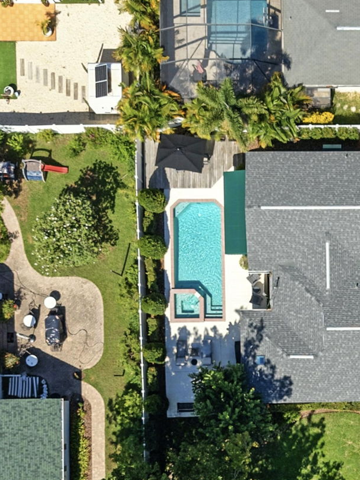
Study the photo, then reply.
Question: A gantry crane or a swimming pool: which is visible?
swimming pool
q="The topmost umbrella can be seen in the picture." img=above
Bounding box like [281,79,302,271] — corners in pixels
[156,134,213,172]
